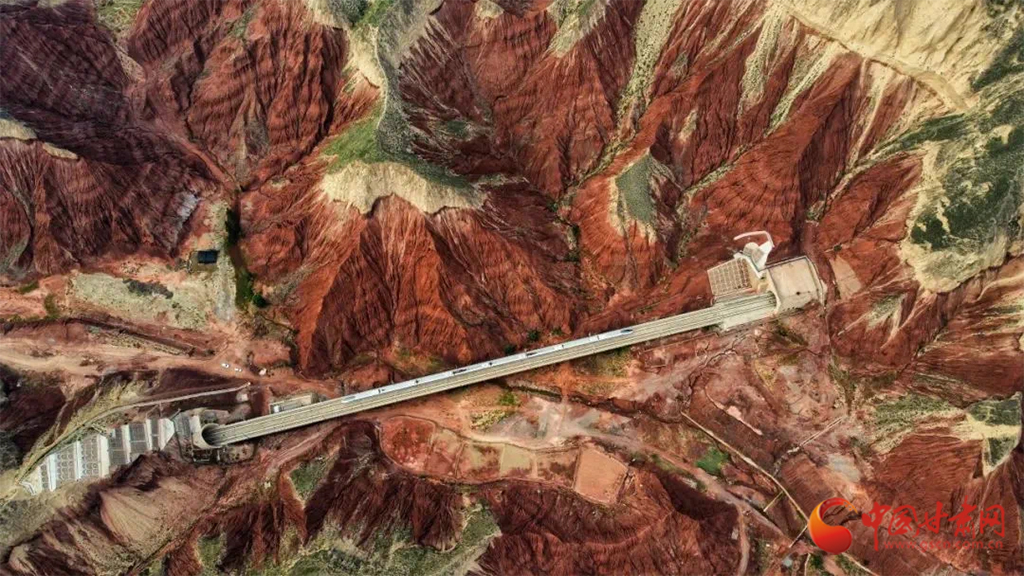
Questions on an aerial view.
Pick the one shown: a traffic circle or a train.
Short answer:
train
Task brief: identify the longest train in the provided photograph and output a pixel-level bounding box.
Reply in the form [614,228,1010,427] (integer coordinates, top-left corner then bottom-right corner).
[342,331,635,403]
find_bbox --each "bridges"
[204,290,779,446]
